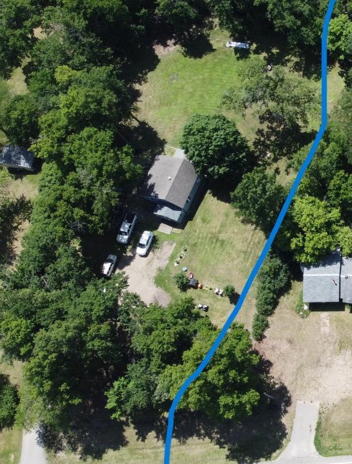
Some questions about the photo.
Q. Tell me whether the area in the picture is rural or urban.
rural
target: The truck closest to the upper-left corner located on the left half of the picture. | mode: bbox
[118,213,139,244]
